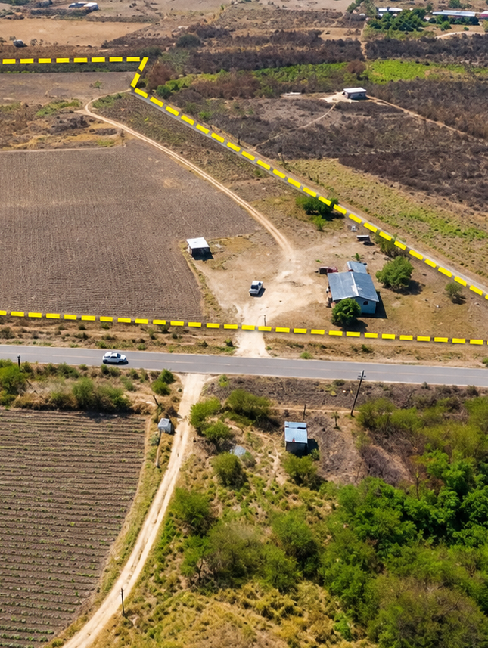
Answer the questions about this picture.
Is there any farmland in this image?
Yes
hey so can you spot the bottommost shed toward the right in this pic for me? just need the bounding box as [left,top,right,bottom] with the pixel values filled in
[280,419,311,453]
